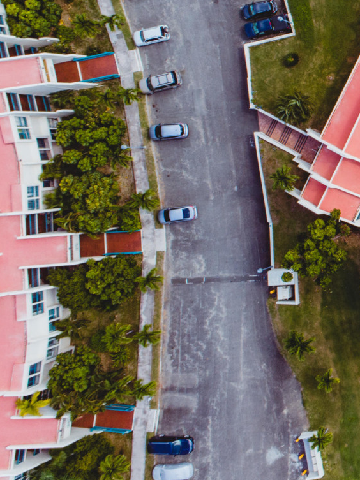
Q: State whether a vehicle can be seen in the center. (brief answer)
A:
Yes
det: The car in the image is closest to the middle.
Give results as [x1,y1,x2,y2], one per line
[158,205,200,225]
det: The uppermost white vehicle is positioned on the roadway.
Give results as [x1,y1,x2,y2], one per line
[132,26,172,45]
